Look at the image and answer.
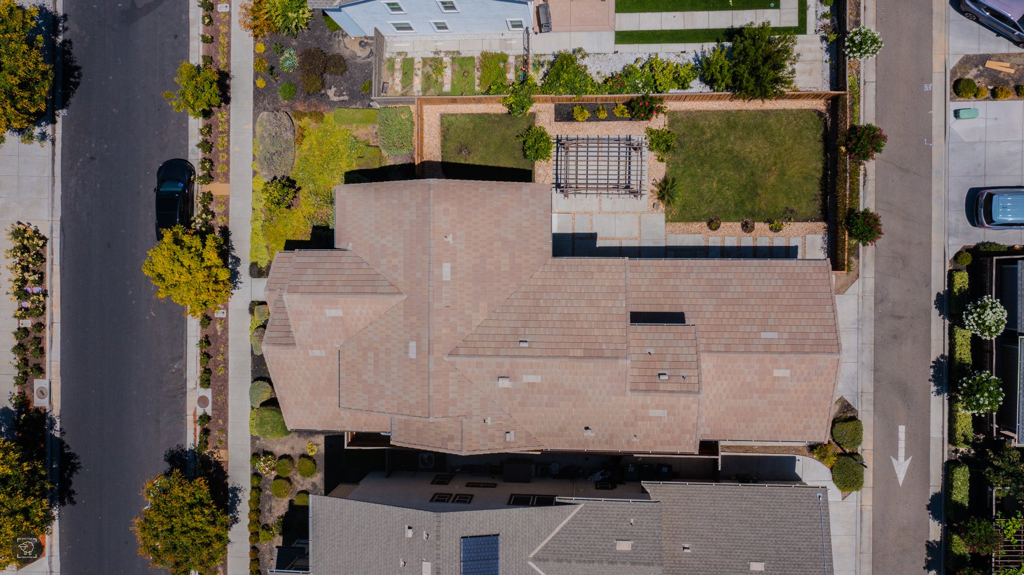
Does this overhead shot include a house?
Yes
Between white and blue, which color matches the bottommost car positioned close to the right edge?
blue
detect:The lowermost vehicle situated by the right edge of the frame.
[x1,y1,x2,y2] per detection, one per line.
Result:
[972,187,1024,228]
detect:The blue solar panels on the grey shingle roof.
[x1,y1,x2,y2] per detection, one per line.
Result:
[463,530,500,575]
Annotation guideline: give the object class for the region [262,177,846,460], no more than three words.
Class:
house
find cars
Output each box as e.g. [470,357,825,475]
[955,0,1024,54]
[153,158,200,246]
[972,187,1024,228]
